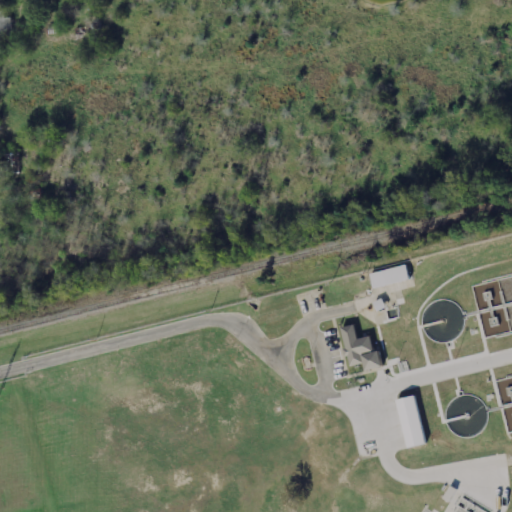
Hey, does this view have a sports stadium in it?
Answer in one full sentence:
No, the photo shows no sports stadium.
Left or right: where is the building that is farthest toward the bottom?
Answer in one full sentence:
You can find the building that is farthest toward the bottom on the right side of the picture.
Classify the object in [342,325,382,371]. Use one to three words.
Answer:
building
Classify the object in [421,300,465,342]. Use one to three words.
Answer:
storage tank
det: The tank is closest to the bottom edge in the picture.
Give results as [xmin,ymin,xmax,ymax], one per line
[446,396,489,438]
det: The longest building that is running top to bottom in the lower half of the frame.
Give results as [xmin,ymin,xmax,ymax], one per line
[396,396,426,449]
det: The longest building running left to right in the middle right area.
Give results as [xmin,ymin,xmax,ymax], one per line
[370,265,410,288]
